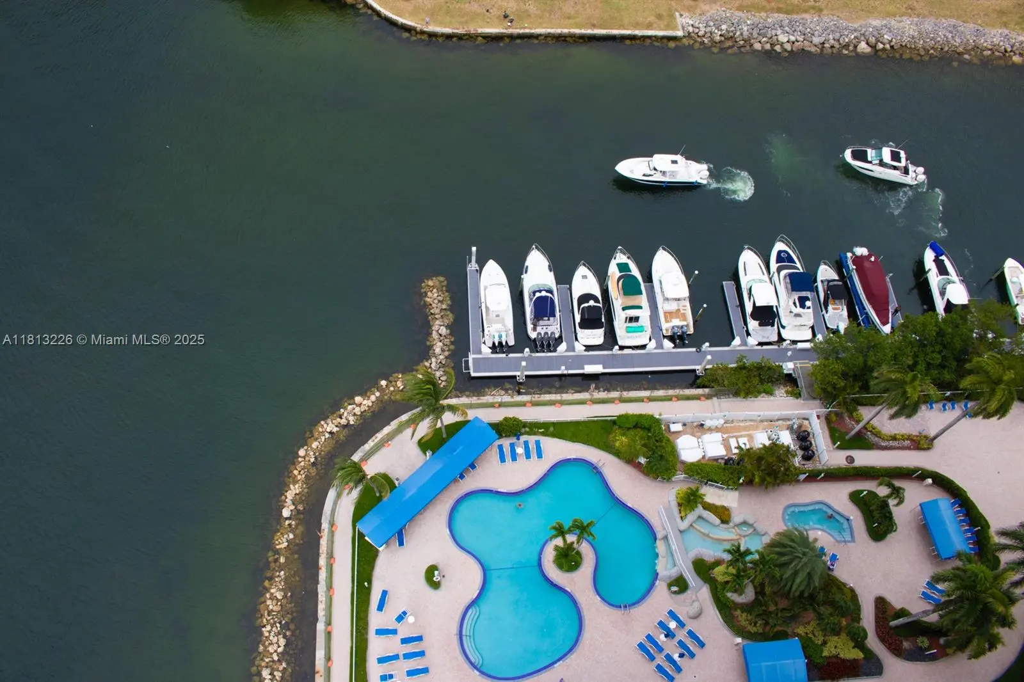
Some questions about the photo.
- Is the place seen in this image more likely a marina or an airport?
marina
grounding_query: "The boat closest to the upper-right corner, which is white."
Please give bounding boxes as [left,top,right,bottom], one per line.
[844,143,928,192]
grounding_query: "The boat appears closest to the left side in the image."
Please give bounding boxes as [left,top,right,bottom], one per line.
[478,260,517,350]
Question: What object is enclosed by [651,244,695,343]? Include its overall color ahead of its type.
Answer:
white boat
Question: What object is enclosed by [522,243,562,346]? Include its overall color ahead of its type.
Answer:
white boat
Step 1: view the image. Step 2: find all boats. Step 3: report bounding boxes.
[767,235,812,339]
[844,143,928,192]
[736,244,782,340]
[815,263,847,329]
[522,243,562,346]
[605,244,654,347]
[567,261,609,342]
[478,260,517,350]
[927,239,968,311]
[615,138,713,189]
[1002,258,1024,329]
[651,244,695,343]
